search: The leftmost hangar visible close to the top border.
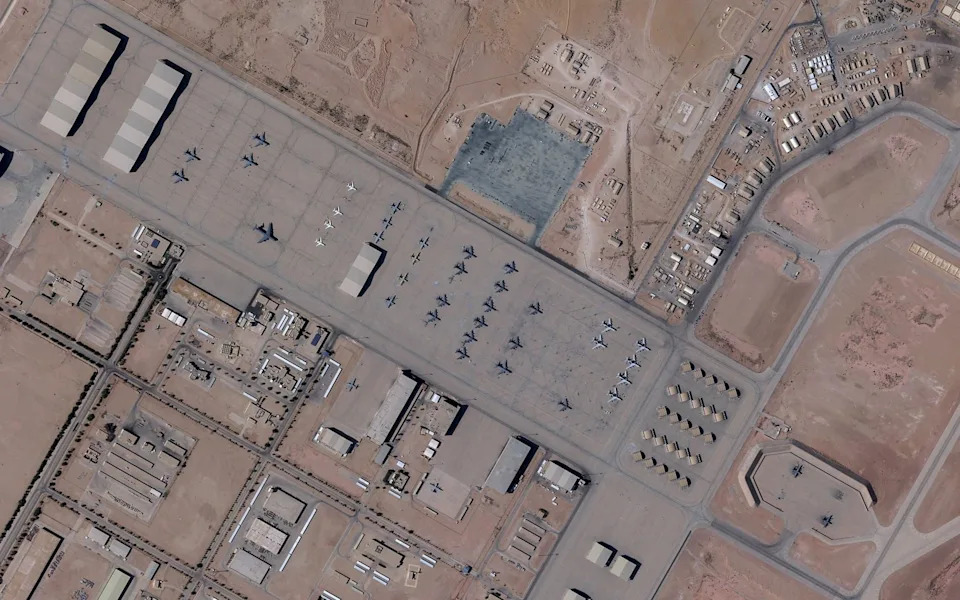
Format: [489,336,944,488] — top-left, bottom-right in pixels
[40,24,121,137]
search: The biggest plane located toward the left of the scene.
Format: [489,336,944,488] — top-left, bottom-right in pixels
[253,222,277,242]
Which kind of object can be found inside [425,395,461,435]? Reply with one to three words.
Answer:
building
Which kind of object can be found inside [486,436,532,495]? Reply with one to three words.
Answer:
hangar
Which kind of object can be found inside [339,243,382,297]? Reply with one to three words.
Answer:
hangar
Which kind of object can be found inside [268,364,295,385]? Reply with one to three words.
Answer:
building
